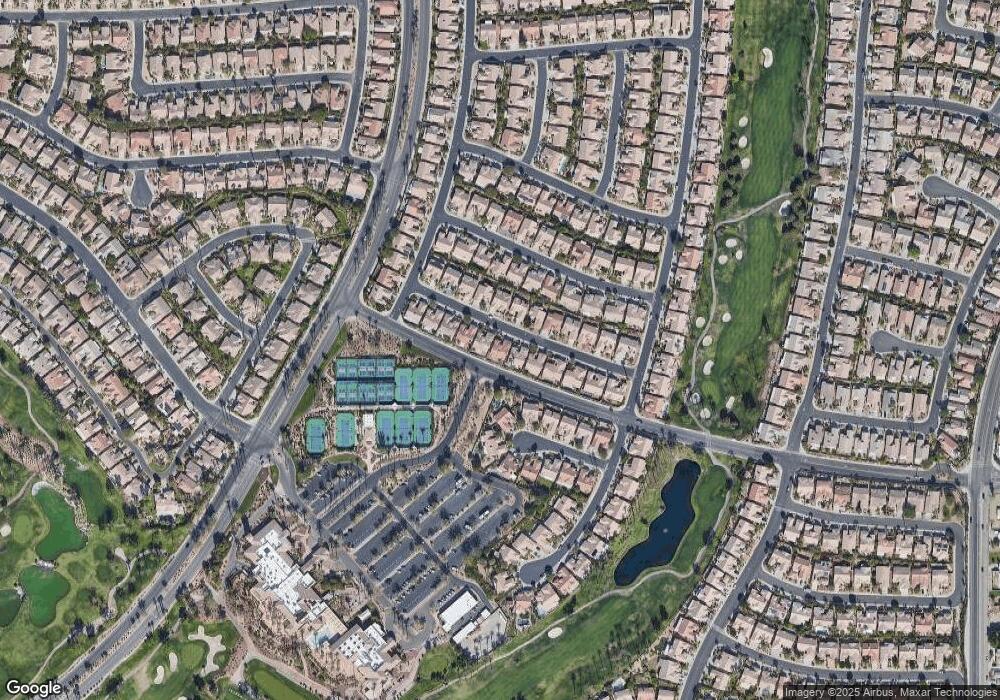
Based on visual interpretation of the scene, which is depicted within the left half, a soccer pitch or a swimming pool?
swimming pool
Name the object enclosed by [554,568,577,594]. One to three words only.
house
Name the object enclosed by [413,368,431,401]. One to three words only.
tennis court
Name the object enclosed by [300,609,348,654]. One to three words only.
swimming pool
